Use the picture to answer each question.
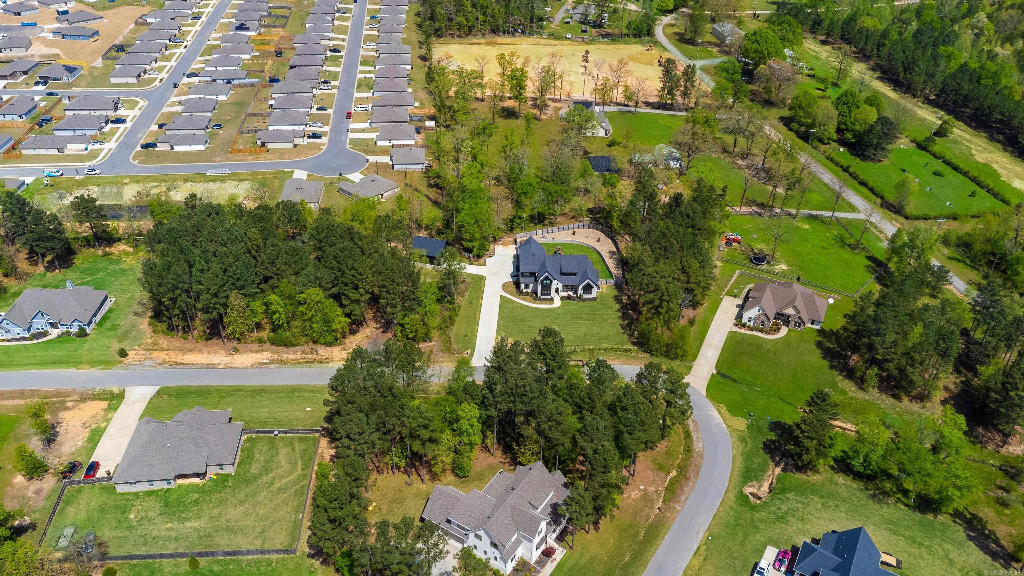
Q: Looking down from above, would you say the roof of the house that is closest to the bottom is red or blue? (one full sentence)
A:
The roof of the house that is closest to the bottom is blue.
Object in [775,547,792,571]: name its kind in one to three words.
car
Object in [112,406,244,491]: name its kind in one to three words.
house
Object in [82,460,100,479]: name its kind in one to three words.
car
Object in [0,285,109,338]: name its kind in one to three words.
house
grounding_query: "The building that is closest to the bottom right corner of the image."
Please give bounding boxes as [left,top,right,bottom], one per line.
[794,528,897,576]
